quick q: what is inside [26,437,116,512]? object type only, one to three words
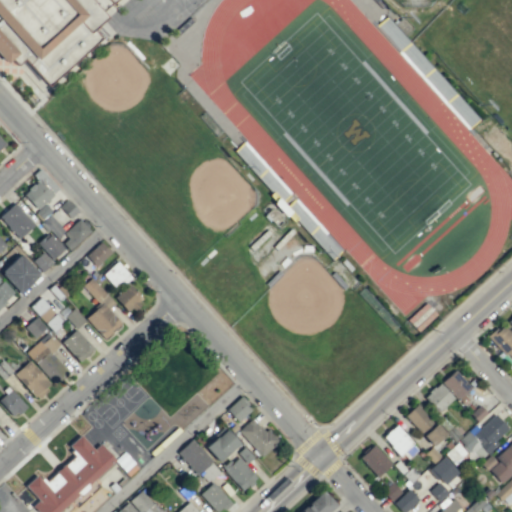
building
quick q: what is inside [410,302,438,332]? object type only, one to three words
building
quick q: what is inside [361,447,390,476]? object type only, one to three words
house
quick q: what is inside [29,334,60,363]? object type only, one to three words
house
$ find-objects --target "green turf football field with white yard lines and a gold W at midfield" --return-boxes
[226,0,492,276]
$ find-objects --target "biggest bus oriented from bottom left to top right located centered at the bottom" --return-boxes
[270,478,292,499]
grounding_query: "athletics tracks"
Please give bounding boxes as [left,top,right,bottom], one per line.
[190,0,511,316]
